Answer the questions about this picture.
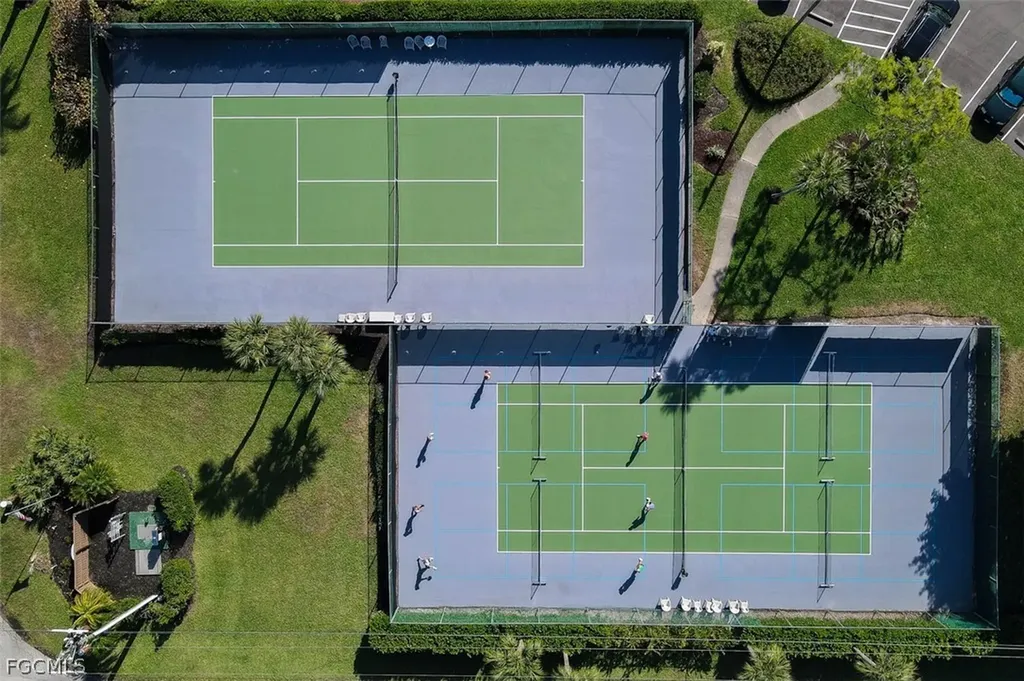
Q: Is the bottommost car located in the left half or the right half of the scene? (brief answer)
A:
right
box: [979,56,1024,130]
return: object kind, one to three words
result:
car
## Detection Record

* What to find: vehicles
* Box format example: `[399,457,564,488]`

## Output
[979,56,1024,130]
[893,0,961,67]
